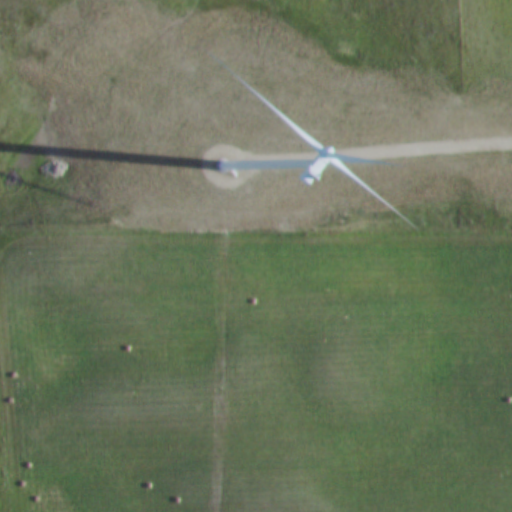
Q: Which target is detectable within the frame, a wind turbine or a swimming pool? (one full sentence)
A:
There is a wind turbine in the scene.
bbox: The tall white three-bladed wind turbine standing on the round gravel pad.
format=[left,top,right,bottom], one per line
[206,51,418,230]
